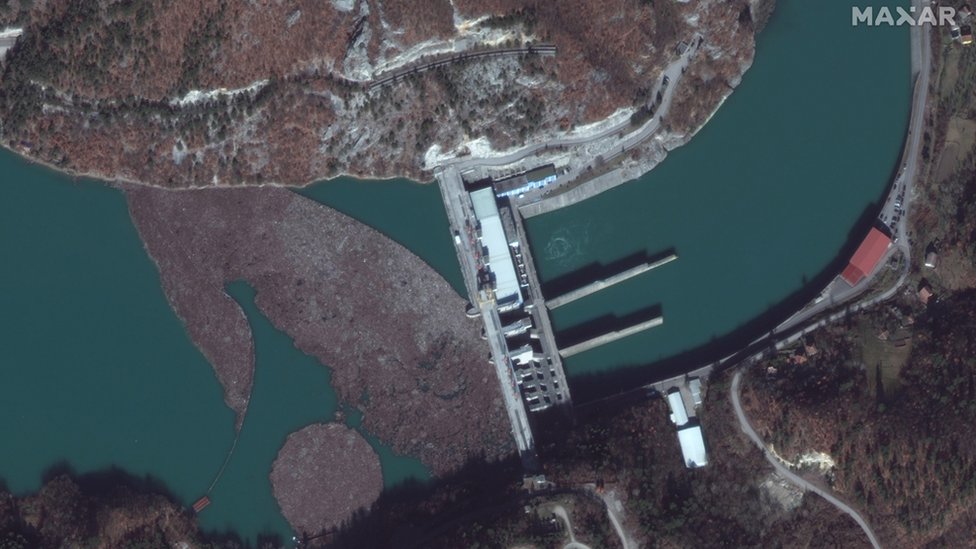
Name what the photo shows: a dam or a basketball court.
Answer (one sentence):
Looking from above, you can make out a dam.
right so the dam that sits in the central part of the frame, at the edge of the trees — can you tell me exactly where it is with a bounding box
[437,170,568,479]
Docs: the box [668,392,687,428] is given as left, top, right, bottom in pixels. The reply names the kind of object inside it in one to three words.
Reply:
building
